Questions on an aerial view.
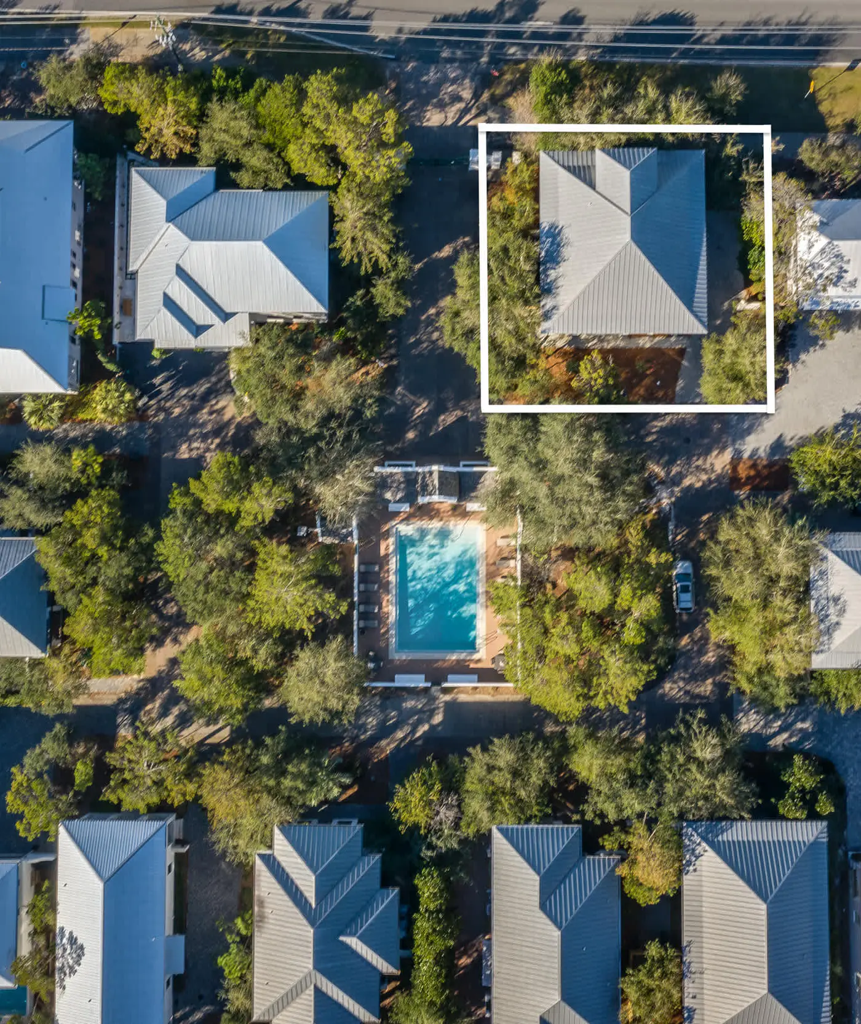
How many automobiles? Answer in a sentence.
The photo contains exactly 1 automobile.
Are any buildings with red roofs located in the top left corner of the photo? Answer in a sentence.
No, there's no building with a red roof to be seen in the top left corner of the photo.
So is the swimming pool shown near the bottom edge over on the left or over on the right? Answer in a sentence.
The swimming pool shown near the bottom edge appears in the left half of the scene.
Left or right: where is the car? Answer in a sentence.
The car sits on the right side.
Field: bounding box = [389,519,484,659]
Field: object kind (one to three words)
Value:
swimming pool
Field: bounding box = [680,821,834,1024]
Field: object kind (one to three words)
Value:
house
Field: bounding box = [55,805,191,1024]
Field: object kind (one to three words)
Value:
house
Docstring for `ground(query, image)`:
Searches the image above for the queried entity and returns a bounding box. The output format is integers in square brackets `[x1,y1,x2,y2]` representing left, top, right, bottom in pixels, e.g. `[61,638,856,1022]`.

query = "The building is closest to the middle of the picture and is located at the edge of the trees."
[374,463,495,506]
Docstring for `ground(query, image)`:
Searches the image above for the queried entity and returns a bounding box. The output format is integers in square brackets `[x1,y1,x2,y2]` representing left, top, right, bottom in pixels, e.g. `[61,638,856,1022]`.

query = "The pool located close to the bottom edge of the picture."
[0,988,26,1016]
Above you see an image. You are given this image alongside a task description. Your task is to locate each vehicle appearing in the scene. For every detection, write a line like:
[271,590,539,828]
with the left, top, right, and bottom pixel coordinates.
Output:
[670,561,695,613]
